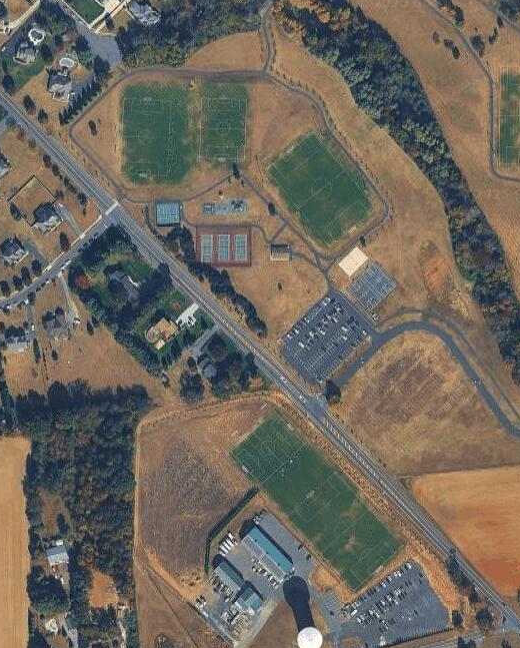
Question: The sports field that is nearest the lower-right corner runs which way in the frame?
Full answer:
In this picture, the sports field that is nearest the lower-right corner is oriented on a diagonal.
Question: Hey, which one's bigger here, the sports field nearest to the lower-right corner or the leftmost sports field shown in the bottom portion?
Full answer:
The sports field nearest to the lower-right corner takes up more space than the leftmost sports field shown in the bottom portion.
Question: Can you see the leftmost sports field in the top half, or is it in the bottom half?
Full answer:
You can find the leftmost sports field in the top half.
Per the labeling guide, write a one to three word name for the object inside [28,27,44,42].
swimming pool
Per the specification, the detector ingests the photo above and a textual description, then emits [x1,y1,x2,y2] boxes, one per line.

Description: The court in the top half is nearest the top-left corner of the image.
[155,201,180,226]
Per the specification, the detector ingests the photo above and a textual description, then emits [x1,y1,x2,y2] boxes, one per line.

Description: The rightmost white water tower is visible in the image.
[297,628,324,648]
